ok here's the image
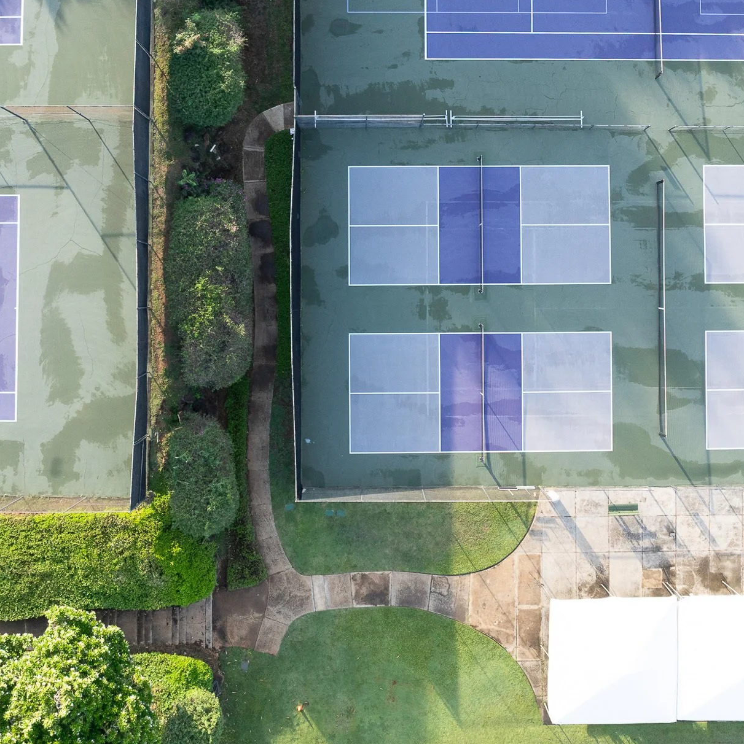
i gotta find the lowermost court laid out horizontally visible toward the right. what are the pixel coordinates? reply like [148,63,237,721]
[348,332,613,455]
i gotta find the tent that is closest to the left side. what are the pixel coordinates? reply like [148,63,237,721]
[540,583,676,725]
